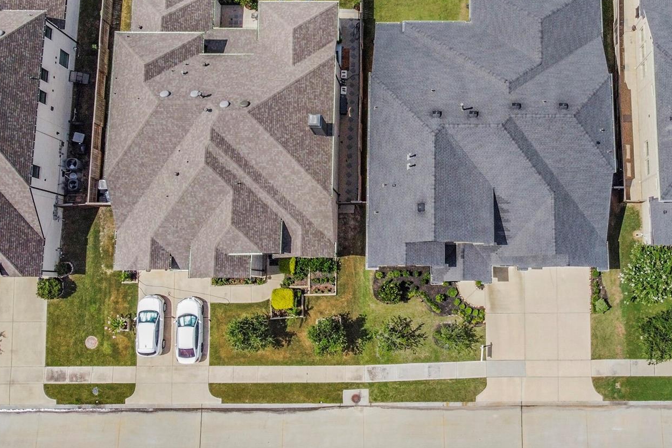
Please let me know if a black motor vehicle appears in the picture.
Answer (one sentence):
No, there's no black motor vehicle here.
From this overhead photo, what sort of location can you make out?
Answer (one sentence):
The picture captures a residential area.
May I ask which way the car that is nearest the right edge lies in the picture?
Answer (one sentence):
In this picture, the car that is nearest the right edge is oriented from top to bottom.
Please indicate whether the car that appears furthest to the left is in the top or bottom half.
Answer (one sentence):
Seen from above, the car that appears furthest to the left lies in the bottom half of the view.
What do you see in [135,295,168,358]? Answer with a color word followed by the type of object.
white car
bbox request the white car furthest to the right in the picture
[172,297,205,365]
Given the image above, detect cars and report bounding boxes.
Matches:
[135,295,168,358]
[172,297,205,365]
